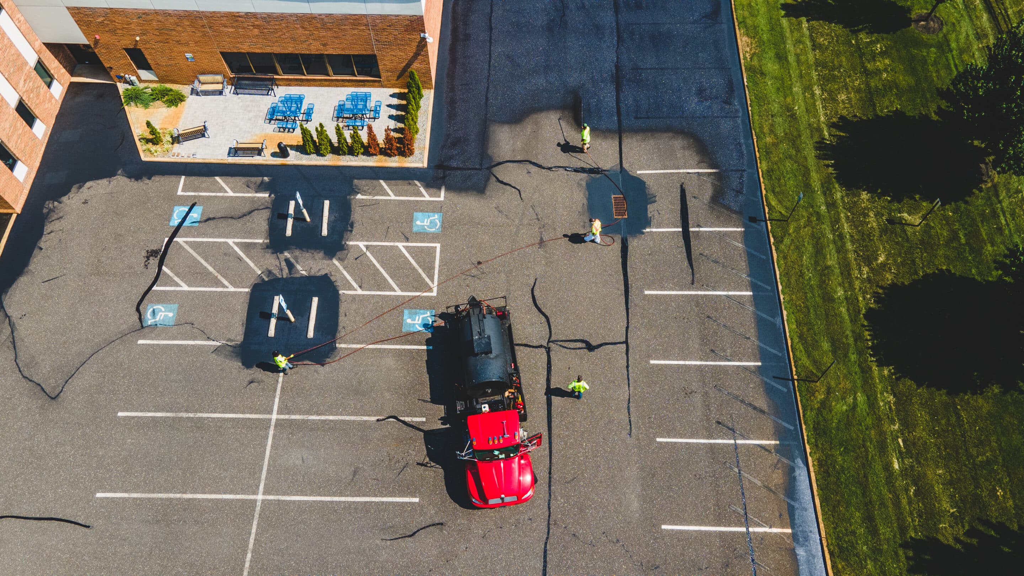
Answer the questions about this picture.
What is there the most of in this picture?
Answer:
paved ground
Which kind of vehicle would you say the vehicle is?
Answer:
truck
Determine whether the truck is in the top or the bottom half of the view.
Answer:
bottom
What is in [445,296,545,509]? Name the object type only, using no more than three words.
truck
